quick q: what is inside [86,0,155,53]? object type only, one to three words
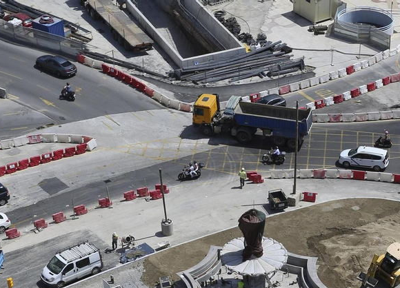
trailer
